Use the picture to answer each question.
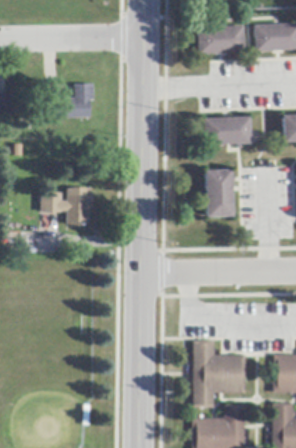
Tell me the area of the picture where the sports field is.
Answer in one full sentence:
The sports field is located in the bottom left region of the scene.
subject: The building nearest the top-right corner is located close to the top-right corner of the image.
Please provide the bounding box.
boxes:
[254,24,296,52]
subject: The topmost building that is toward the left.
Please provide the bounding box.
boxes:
[68,83,96,120]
